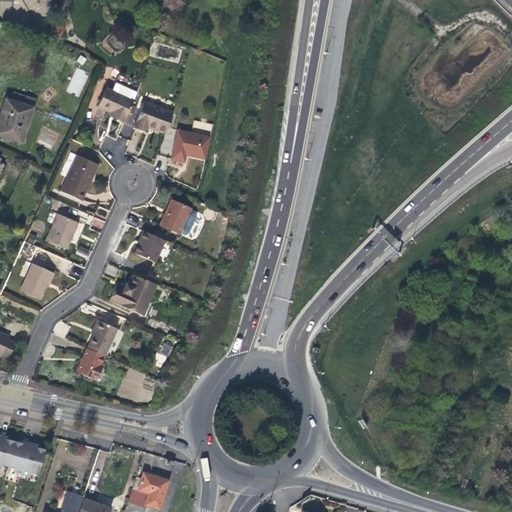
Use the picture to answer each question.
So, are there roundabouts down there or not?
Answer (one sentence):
Yes, the photo shows a roundabout.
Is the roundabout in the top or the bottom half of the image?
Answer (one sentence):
The roundabout sits in the bottom half of the picture.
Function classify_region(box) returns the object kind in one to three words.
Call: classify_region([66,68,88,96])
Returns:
shed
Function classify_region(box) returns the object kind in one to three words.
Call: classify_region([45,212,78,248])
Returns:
house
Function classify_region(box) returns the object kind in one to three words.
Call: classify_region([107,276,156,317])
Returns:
house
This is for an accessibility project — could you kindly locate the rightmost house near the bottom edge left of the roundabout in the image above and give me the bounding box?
[128,472,170,510]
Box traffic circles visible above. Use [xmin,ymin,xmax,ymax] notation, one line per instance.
[180,348,325,505]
